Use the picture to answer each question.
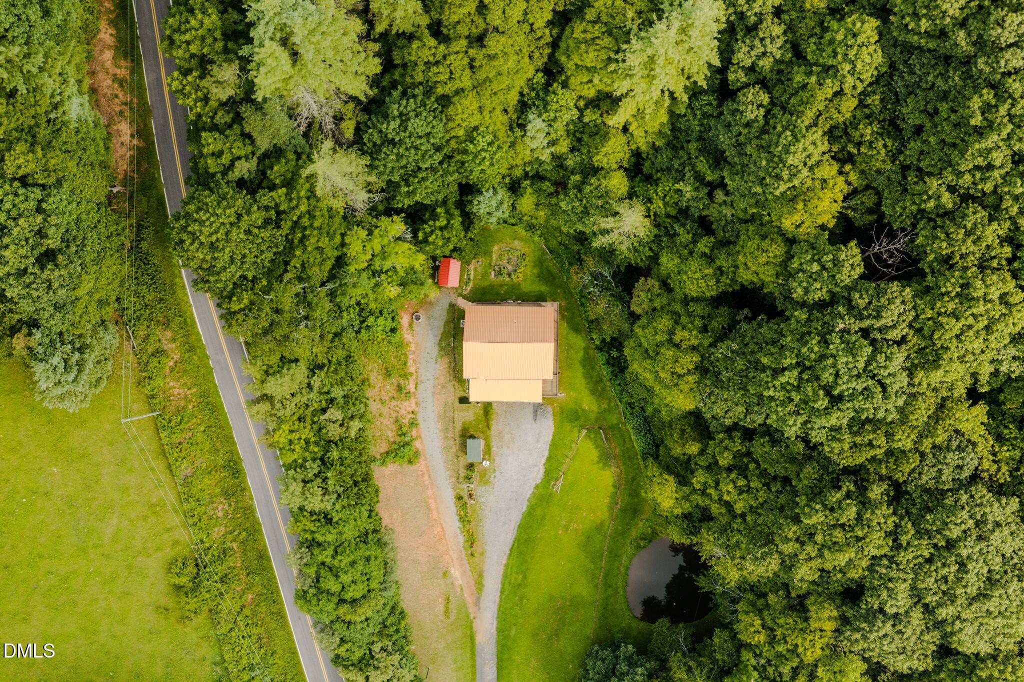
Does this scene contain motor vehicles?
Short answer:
No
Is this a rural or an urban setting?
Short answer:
rural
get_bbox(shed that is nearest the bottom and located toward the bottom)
[468,439,486,462]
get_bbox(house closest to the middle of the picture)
[463,304,554,402]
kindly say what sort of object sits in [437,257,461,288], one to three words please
shed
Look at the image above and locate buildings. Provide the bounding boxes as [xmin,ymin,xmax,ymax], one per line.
[437,257,461,288]
[463,304,554,402]
[468,439,486,462]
